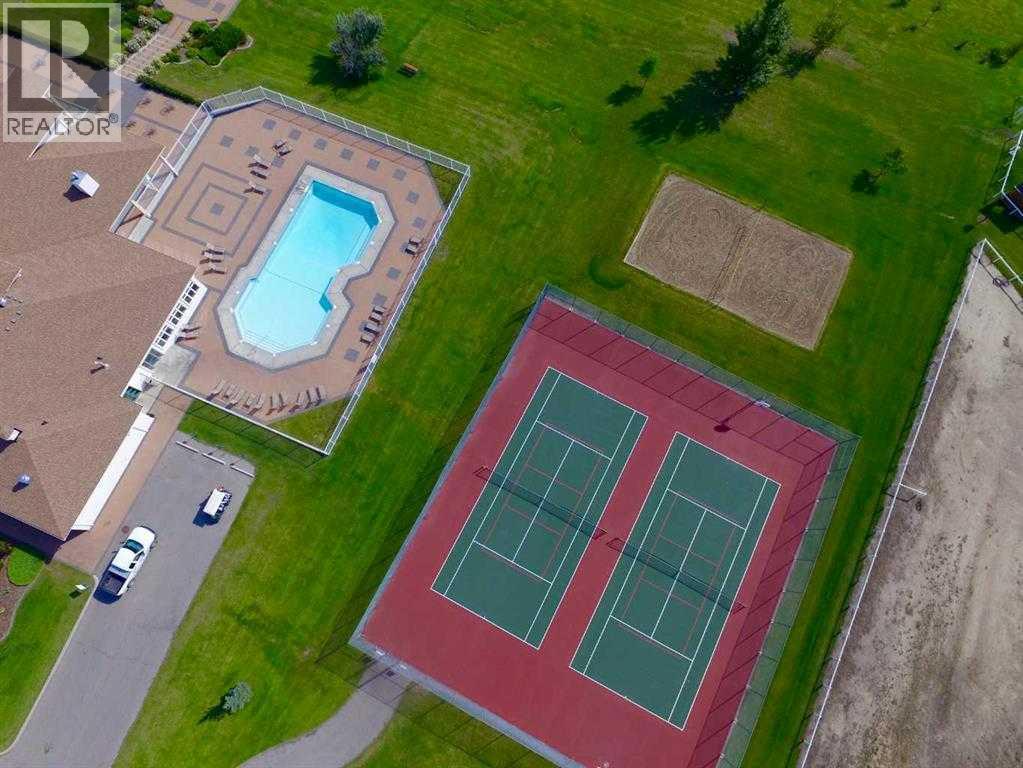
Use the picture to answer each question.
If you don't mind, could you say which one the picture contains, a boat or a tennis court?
tennis court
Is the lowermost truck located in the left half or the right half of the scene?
left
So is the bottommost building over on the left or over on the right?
left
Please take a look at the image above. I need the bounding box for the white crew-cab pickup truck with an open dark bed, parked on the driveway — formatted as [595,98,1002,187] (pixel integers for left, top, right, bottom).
[92,525,159,599]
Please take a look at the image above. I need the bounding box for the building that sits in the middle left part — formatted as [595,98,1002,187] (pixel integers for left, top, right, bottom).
[0,84,206,541]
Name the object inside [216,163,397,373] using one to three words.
swimming pool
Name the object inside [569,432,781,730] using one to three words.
tennis court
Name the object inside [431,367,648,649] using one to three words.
tennis court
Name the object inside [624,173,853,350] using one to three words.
sports court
